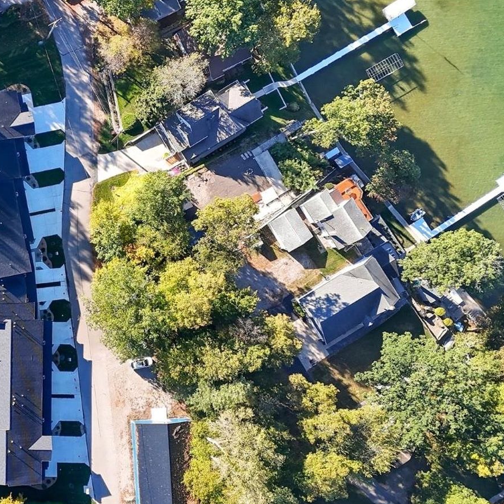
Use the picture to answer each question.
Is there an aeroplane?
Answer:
No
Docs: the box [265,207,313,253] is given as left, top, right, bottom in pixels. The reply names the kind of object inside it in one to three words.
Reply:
building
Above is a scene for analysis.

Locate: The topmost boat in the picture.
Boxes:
[409,209,429,222]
